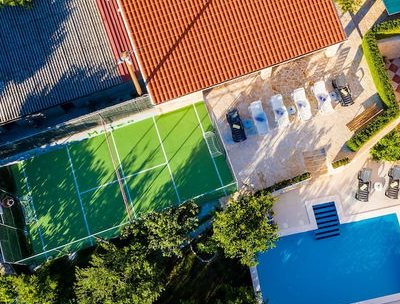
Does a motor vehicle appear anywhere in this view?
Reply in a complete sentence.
No, no motor vehicle can be seen from above.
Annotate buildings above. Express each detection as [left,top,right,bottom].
[116,0,349,113]
[0,0,129,140]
